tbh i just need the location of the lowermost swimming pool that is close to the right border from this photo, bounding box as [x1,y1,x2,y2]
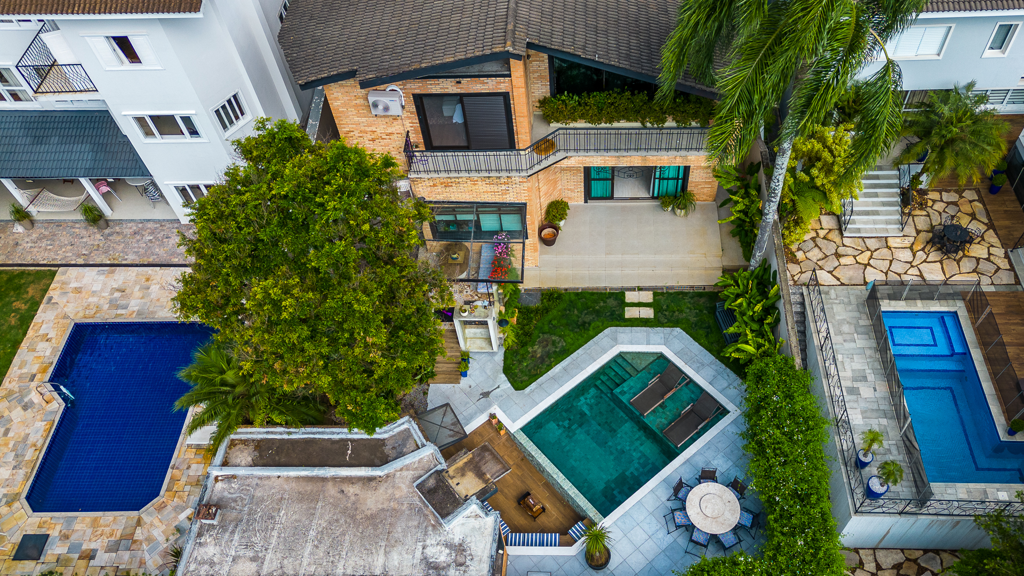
[882,312,1024,483]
